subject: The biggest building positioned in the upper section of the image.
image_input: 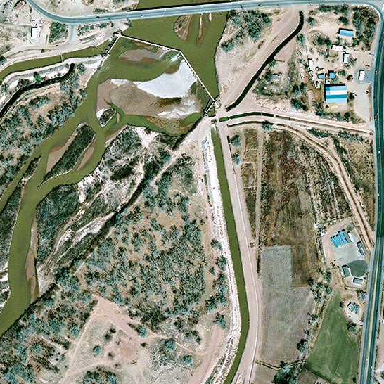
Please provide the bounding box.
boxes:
[326,84,347,103]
